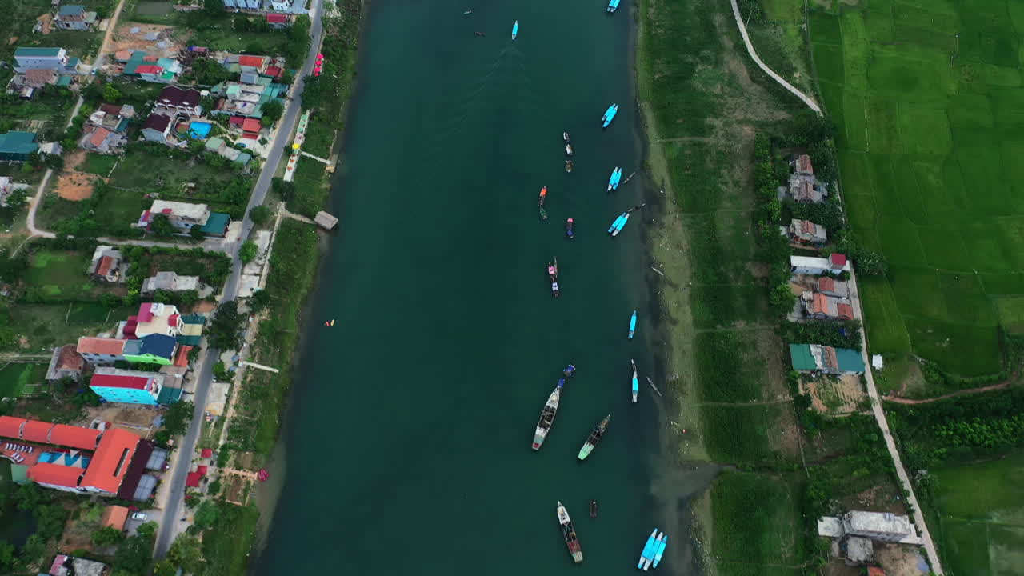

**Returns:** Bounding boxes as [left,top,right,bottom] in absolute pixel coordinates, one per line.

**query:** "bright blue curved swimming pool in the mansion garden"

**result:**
[188,121,213,140]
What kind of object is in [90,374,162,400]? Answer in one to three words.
building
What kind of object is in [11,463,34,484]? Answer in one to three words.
shed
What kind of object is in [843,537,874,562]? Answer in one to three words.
house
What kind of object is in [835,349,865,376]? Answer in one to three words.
barn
